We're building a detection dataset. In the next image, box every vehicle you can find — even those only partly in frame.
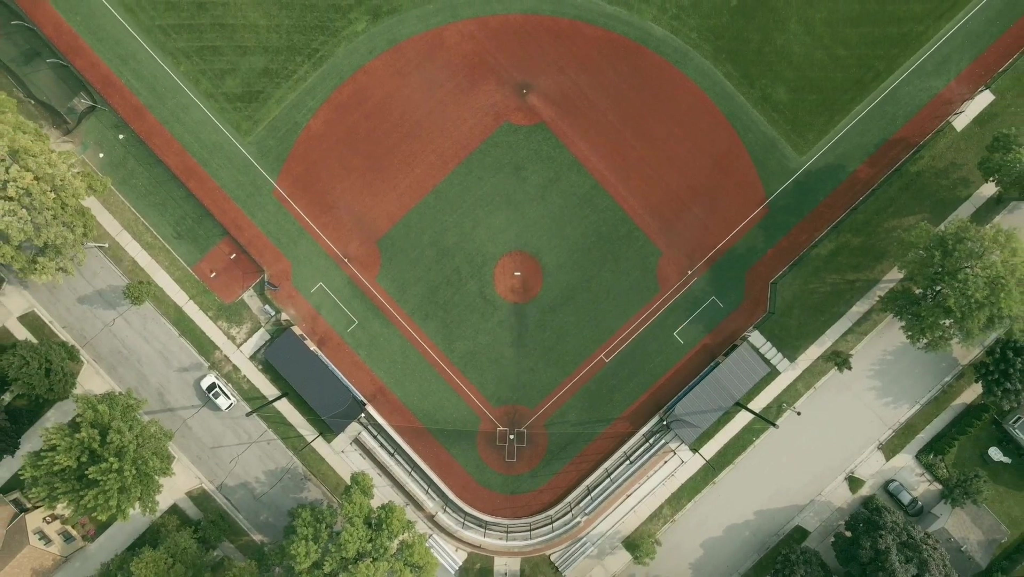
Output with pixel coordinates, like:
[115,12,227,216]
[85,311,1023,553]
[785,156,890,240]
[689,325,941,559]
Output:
[884,476,922,518]
[201,374,238,413]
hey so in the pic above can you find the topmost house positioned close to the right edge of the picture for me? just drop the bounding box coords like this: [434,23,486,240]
[995,408,1024,444]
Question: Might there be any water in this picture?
No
